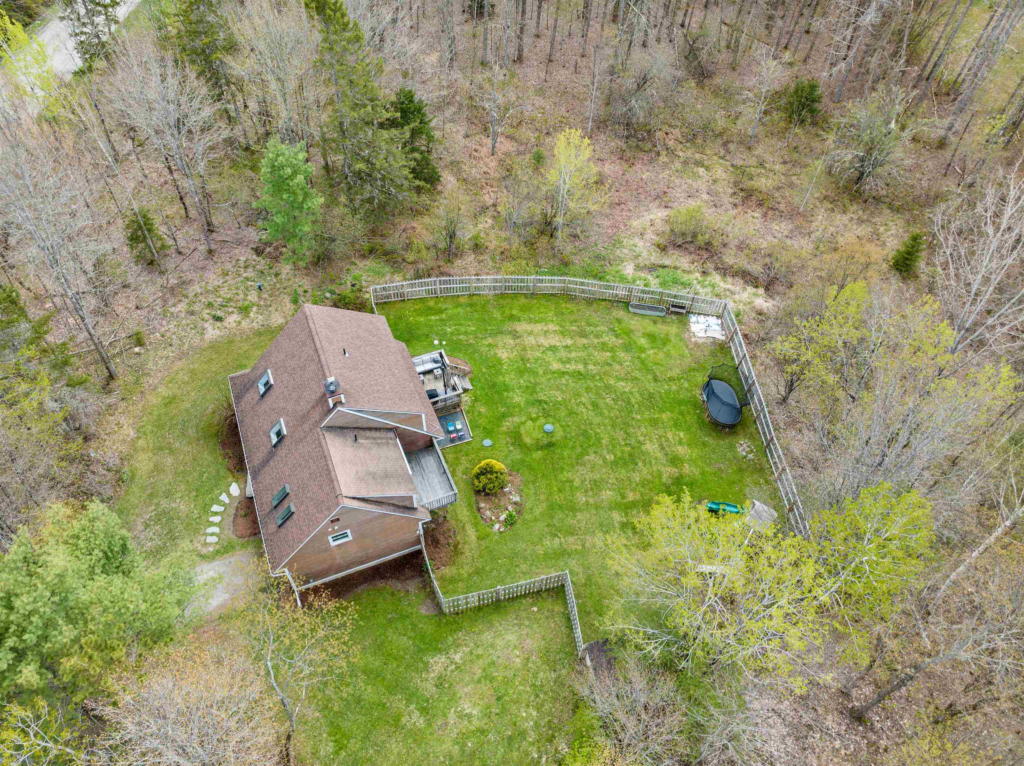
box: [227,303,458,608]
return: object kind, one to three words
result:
house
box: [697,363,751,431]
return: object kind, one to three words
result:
trampoline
